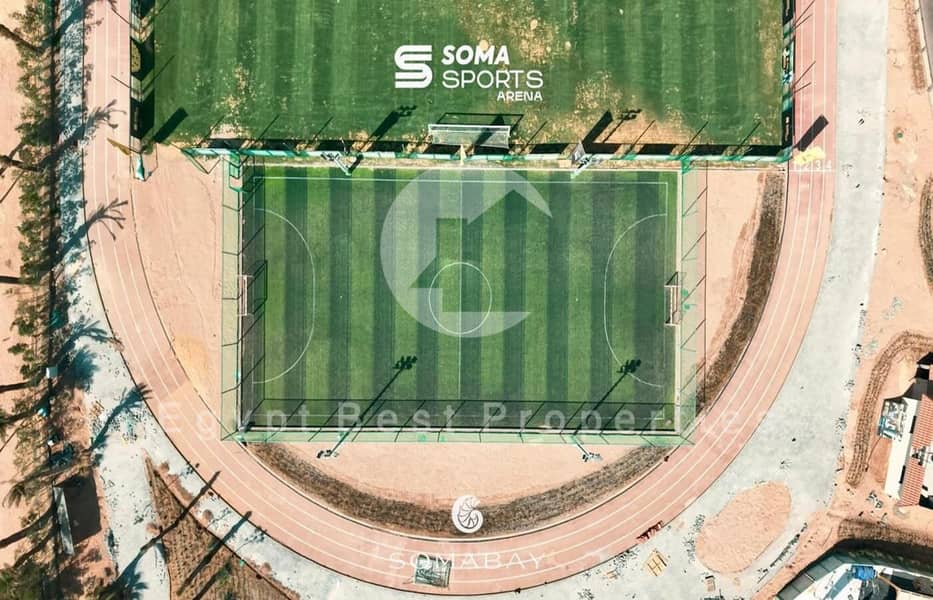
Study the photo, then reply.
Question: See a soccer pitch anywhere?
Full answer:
Yes, there's a soccer pitch down there.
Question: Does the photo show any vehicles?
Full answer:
No, there appears to be no vehicle in this shot.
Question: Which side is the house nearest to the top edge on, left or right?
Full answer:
The house nearest to the top edge is on the right side of the image.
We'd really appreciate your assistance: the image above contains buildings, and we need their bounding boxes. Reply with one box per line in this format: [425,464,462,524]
[874,367,933,514]
[54,481,88,554]
[765,554,933,600]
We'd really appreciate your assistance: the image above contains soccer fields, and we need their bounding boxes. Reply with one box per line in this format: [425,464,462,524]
[147,0,784,158]
[239,166,683,431]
